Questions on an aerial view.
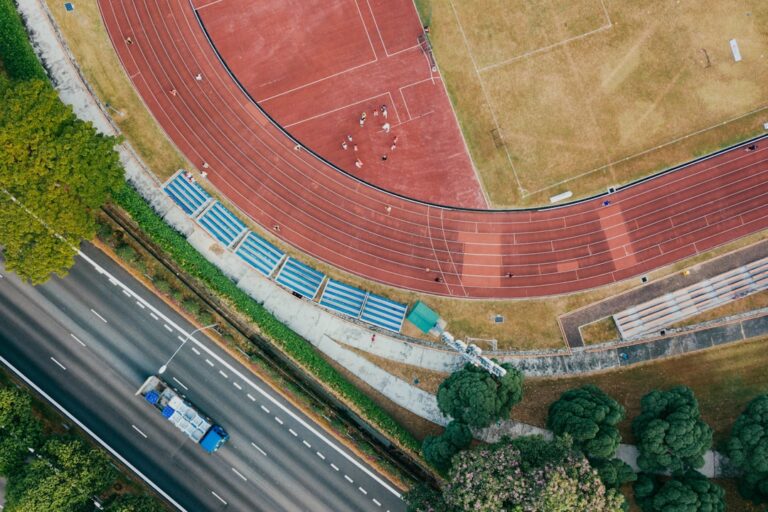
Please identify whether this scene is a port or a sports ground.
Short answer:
sports ground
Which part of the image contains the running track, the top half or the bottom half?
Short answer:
top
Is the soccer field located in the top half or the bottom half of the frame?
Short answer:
top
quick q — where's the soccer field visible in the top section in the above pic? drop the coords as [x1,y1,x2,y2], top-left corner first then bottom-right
[416,0,768,209]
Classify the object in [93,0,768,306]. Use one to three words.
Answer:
running track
